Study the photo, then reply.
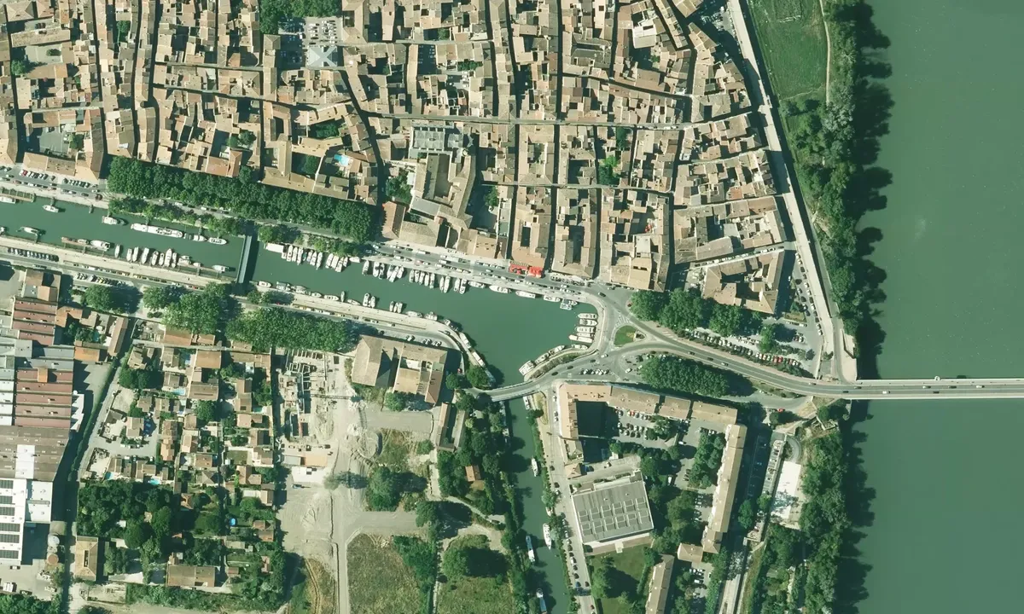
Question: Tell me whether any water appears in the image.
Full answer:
Yes, there is water in the image.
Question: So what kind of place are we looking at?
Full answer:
This image shows a residential area.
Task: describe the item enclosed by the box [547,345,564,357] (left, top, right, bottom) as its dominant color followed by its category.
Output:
white boat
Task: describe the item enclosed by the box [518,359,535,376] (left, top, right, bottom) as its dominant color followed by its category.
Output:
white boat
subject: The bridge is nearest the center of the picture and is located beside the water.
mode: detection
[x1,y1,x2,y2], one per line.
[488,373,540,404]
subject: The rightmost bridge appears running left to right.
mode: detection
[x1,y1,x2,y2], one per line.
[853,377,1024,399]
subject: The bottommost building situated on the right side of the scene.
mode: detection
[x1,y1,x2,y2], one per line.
[641,554,674,614]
